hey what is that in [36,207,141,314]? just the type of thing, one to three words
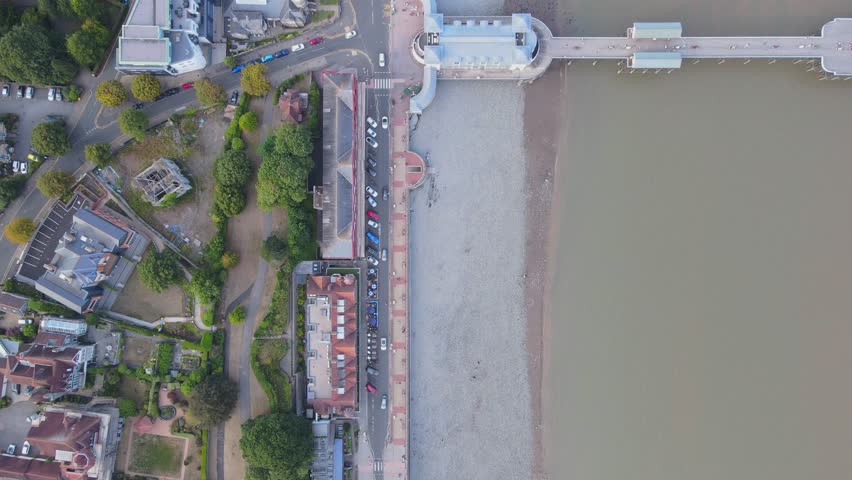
building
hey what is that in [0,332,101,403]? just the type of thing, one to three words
house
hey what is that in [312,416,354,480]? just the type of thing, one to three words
building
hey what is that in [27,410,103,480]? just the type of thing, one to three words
house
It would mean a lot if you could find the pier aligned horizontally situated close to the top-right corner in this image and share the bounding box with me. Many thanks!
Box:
[551,17,852,80]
